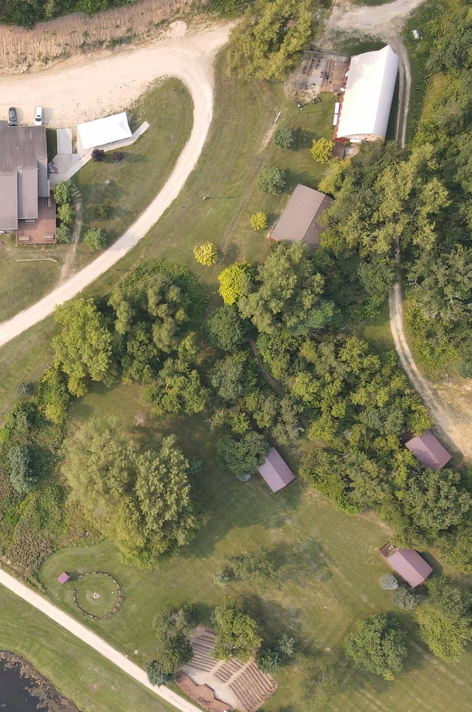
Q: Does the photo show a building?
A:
Yes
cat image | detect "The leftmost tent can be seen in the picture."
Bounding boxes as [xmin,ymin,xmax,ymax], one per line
[77,112,133,149]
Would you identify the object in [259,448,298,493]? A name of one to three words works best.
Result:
building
